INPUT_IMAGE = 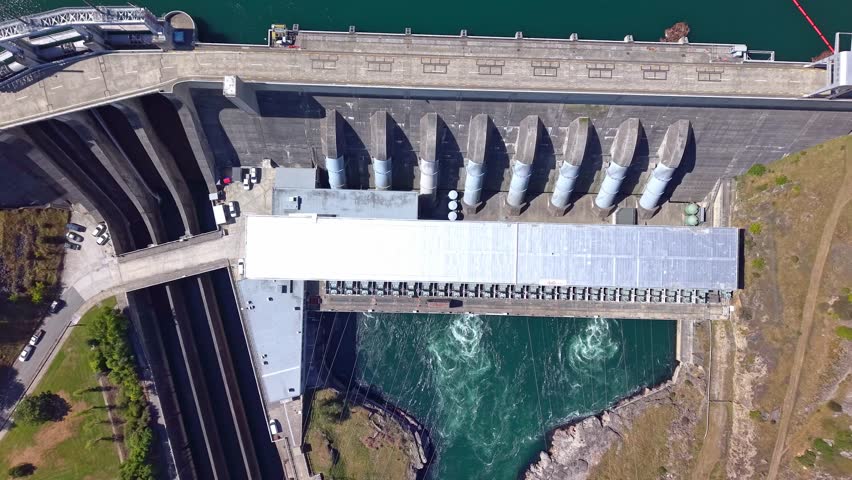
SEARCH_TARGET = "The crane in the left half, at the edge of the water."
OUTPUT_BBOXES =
[267,21,298,50]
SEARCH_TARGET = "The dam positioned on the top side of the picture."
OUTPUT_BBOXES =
[0,30,852,200]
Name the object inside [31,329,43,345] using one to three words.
vehicle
